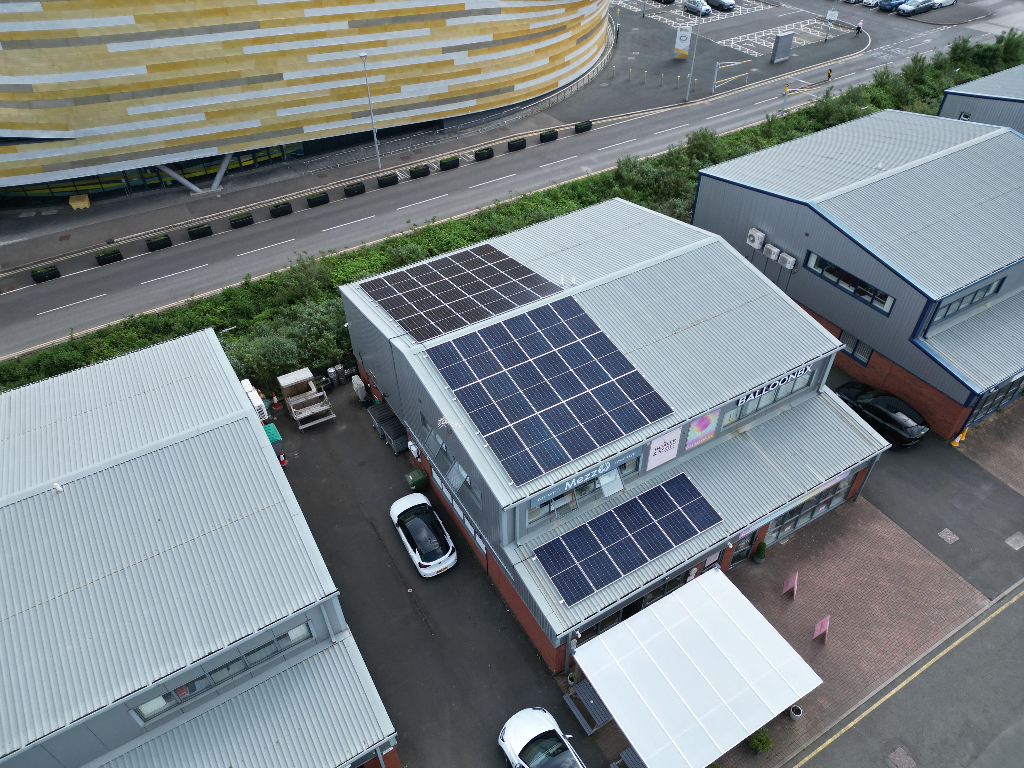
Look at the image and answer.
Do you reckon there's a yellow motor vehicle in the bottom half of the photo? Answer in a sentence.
No, no yellow motor vehicle appears in the bottom half of the photo.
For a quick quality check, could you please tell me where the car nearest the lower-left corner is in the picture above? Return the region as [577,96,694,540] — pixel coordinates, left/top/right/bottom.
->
[387,494,459,577]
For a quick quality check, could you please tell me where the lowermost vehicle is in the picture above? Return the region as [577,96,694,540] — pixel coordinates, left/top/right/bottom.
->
[498,707,585,768]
